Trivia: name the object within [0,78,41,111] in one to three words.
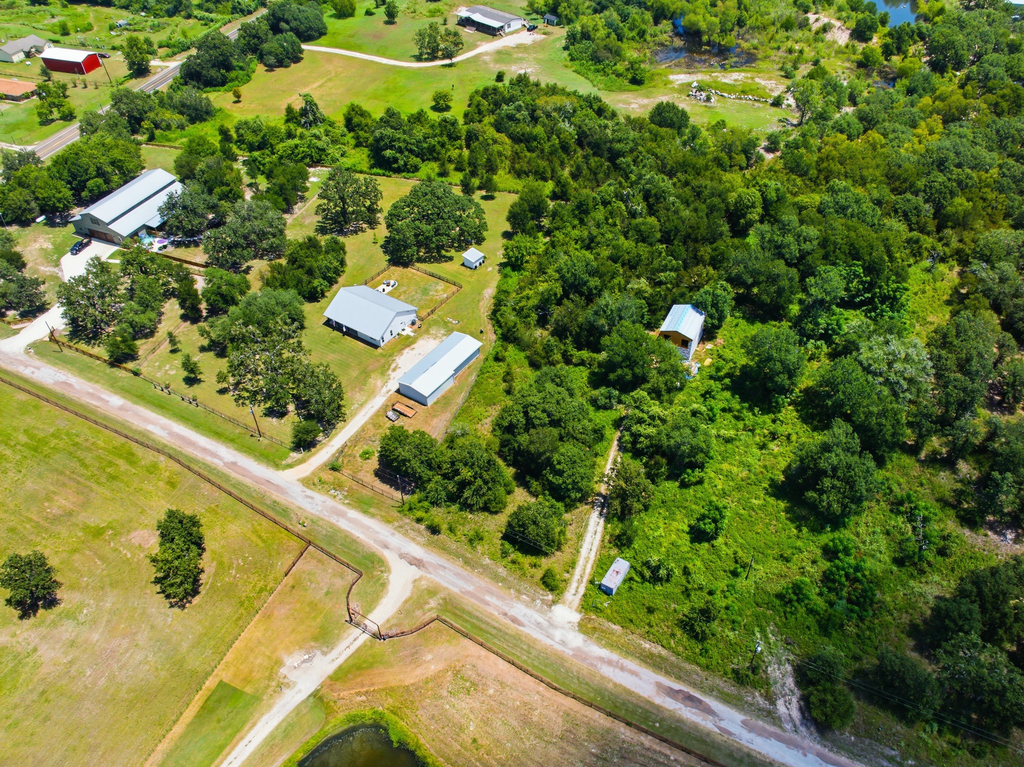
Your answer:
house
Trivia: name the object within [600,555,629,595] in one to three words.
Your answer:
shipping container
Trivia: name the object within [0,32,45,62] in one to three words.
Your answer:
house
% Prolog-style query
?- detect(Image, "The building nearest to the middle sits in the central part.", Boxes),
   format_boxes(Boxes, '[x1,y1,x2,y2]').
[397,332,483,405]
